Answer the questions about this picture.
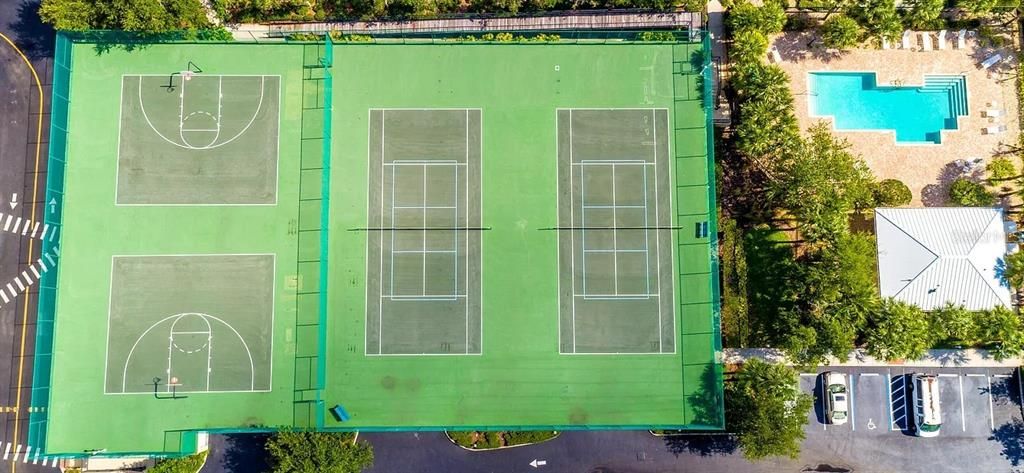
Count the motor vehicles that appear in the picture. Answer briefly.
2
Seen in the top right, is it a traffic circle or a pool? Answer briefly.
pool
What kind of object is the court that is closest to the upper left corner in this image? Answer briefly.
basketball court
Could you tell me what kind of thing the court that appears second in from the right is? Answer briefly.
tennis court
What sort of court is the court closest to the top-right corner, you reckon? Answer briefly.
tennis court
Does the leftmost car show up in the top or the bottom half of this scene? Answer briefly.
bottom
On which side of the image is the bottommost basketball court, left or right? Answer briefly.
left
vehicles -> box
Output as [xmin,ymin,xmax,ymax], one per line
[907,372,945,440]
[822,371,849,425]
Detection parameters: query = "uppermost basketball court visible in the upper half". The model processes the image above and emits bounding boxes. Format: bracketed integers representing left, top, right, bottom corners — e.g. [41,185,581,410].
[115,75,281,205]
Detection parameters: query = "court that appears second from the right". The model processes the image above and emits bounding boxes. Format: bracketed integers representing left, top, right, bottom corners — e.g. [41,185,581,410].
[365,108,482,356]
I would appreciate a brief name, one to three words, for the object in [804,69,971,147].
swimming pool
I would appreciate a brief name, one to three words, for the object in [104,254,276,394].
basketball court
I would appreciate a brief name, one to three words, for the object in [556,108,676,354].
tennis court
